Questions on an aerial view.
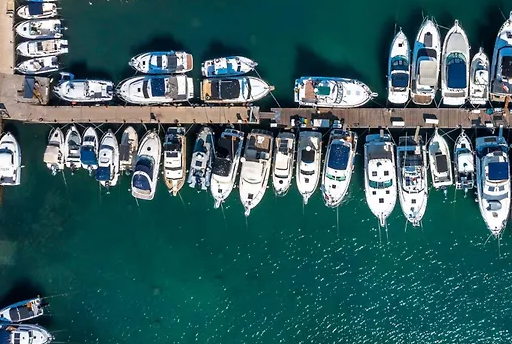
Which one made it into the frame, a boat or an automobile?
boat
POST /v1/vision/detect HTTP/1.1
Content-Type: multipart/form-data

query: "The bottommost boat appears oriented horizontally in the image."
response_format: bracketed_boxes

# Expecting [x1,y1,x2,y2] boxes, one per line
[0,322,70,344]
